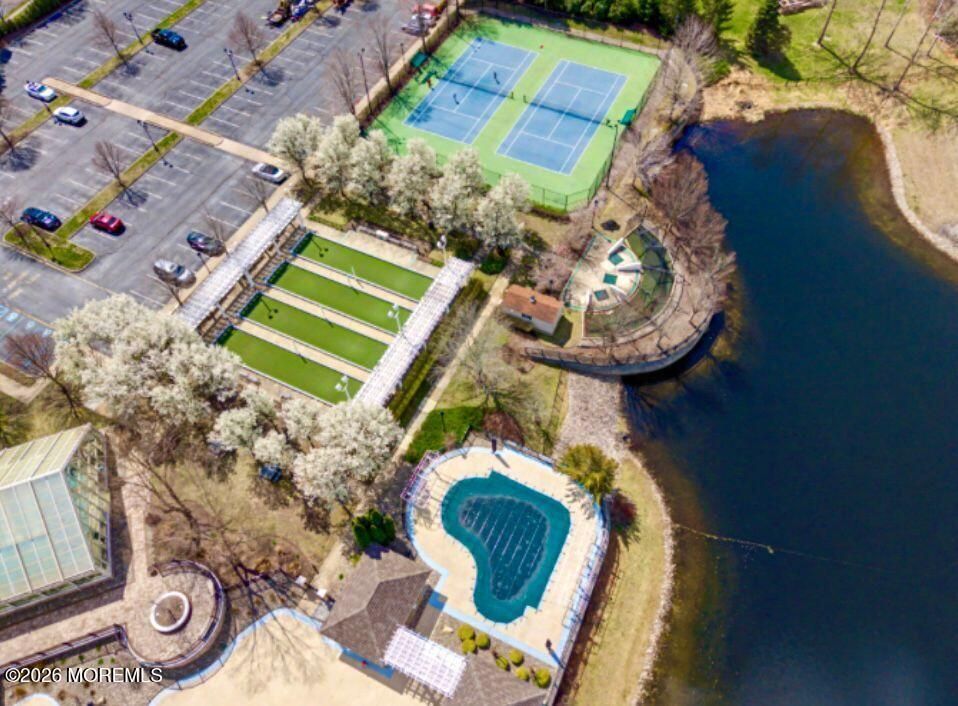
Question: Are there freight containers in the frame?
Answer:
No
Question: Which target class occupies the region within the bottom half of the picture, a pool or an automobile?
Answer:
pool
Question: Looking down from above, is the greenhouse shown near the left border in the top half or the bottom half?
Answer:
bottom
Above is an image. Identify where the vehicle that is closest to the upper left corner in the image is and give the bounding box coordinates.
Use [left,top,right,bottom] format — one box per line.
[21,80,57,102]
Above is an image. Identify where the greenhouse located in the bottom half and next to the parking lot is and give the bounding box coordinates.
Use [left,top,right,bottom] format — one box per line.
[0,420,111,608]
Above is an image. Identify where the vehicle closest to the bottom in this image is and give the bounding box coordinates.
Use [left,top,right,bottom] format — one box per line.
[152,259,196,287]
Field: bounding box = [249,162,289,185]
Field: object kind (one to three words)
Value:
car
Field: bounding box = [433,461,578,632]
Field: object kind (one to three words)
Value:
swimming pool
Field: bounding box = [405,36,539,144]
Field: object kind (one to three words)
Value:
tennis court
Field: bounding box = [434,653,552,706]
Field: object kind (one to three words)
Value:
building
